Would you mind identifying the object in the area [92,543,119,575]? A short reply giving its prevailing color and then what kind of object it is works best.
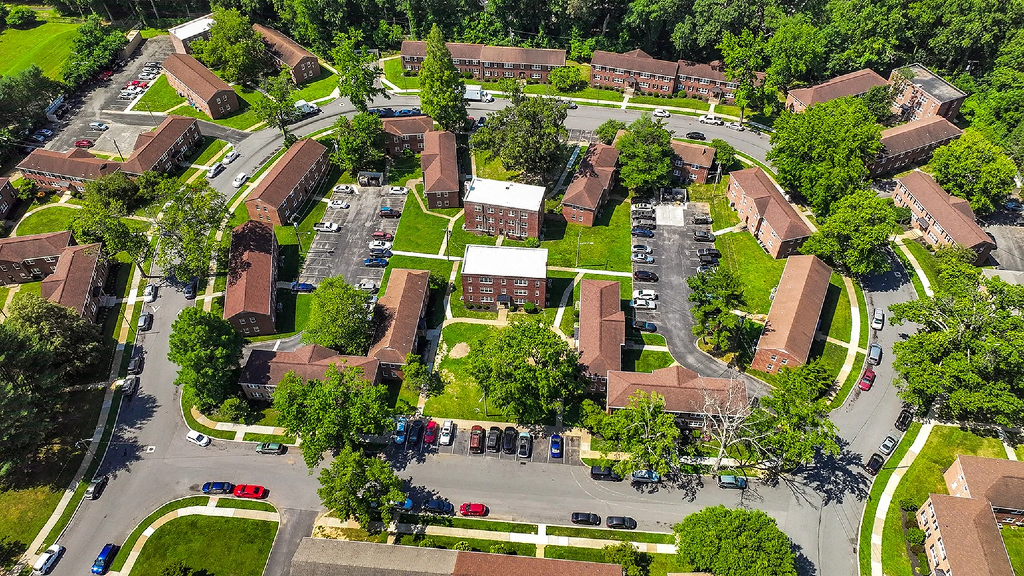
blue car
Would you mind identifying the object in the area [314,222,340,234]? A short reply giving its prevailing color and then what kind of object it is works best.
white vehicle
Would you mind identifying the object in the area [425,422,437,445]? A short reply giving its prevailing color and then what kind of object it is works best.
red vehicle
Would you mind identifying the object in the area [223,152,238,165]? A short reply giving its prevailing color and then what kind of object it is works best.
white vehicle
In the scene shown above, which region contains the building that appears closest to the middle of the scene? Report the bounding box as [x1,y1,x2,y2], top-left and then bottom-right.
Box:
[461,244,549,315]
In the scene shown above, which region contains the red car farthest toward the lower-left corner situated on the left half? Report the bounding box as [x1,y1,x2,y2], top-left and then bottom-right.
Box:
[235,485,267,499]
